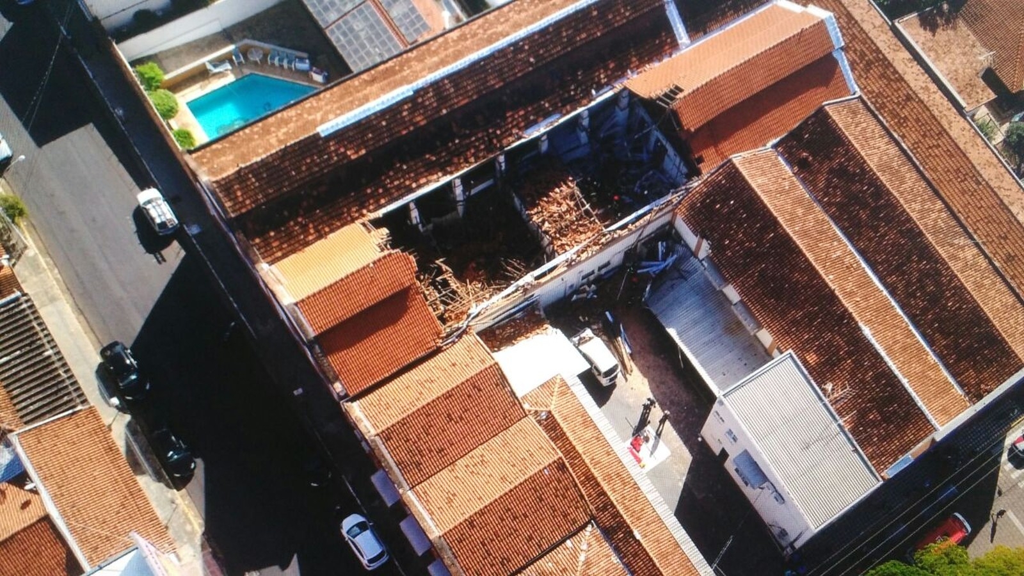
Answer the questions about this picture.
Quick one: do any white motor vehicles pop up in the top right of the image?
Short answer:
No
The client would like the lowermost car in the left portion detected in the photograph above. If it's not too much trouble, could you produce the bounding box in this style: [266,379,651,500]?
[341,514,391,576]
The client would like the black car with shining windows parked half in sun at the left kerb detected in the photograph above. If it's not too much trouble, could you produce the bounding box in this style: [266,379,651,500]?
[101,336,152,401]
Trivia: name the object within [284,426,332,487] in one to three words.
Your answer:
car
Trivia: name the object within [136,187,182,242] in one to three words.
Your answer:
car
